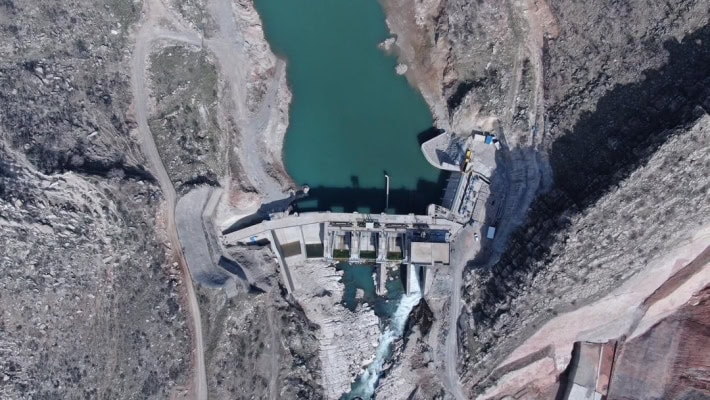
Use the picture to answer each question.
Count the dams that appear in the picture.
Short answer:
1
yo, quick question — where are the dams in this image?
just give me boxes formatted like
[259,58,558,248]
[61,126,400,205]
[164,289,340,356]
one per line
[223,210,463,295]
